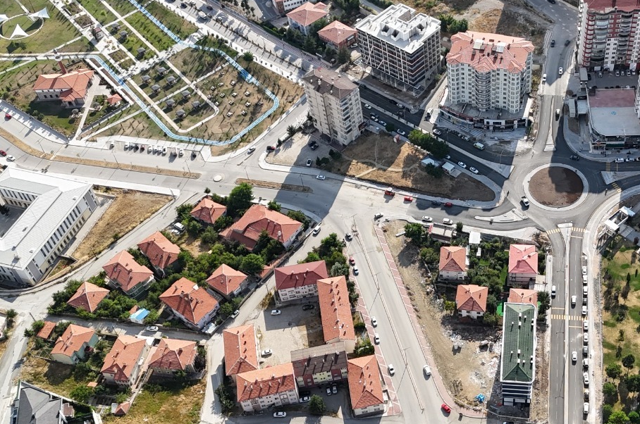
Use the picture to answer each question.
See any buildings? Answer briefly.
Yes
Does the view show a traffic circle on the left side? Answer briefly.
No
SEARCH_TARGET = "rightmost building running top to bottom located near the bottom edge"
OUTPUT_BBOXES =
[500,302,538,410]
